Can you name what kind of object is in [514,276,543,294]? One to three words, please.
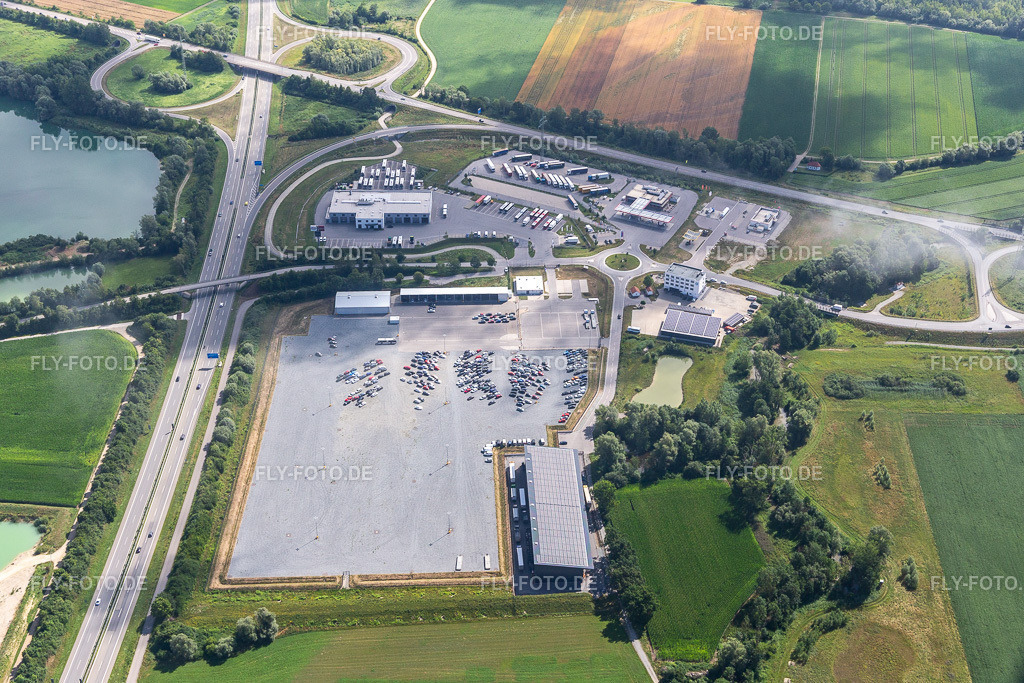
building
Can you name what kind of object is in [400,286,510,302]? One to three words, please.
shed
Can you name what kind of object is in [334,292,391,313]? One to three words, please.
hangar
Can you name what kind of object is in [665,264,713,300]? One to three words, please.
building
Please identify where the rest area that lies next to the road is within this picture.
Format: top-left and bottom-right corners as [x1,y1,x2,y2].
[448,150,698,259]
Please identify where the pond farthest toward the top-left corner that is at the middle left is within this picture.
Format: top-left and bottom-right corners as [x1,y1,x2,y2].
[0,265,96,306]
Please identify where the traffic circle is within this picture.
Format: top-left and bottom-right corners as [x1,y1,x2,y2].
[596,249,651,275]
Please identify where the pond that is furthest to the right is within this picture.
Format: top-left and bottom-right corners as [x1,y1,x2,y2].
[631,357,692,409]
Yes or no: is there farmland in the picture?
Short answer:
Yes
